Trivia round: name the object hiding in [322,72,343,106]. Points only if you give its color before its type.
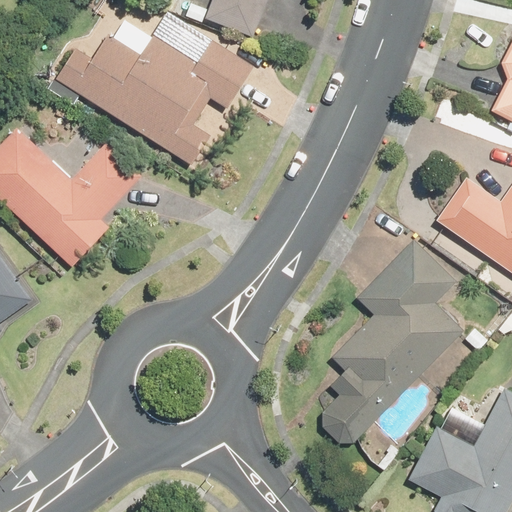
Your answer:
white car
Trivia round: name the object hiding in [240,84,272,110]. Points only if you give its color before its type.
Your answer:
white car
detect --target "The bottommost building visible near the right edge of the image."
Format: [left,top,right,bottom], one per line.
[408,388,512,512]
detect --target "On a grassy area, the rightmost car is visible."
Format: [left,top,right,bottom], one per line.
[464,25,494,48]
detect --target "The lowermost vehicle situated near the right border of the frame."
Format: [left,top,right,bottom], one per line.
[477,168,502,197]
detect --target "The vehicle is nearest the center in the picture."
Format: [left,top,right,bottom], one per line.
[285,150,306,180]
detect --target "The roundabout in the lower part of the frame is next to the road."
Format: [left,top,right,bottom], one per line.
[136,345,215,422]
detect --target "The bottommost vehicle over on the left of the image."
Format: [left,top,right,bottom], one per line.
[128,190,160,206]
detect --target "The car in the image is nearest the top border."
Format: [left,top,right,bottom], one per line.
[352,0,372,26]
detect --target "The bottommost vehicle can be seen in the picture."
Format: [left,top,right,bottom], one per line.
[374,213,405,238]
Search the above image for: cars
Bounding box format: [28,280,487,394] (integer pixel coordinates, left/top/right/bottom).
[352,0,372,26]
[322,72,343,106]
[470,78,502,96]
[240,84,272,110]
[477,168,502,197]
[236,47,264,68]
[285,150,306,180]
[464,25,494,48]
[128,190,160,206]
[374,213,405,238]
[490,149,512,168]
